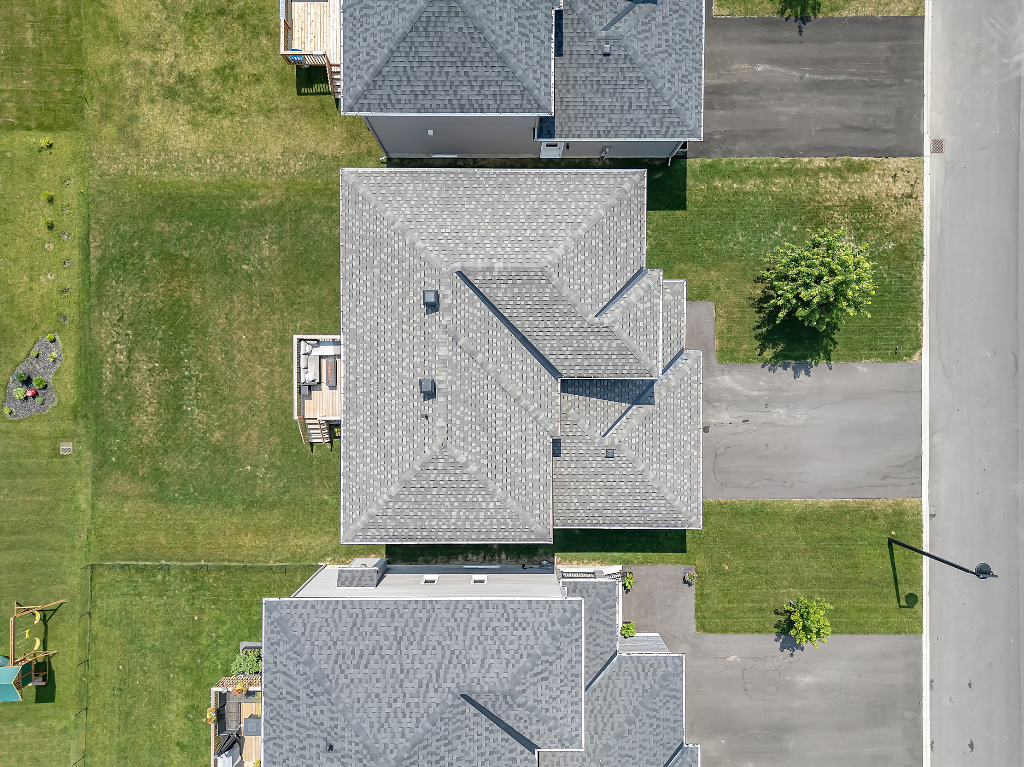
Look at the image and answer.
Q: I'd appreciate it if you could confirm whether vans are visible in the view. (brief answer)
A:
No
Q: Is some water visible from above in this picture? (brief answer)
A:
No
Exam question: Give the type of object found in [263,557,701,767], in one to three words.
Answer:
house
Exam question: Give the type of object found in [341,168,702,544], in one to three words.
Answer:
house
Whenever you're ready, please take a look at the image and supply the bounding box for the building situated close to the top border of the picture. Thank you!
[343,0,703,173]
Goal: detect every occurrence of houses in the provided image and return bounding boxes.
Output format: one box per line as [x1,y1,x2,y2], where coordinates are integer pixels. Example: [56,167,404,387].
[343,0,703,173]
[341,168,702,544]
[263,557,701,767]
